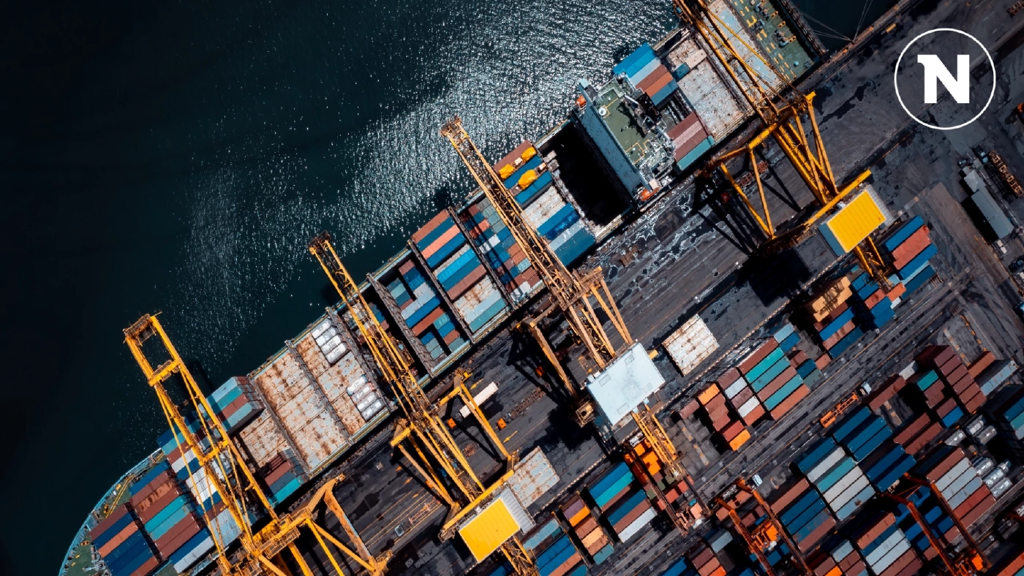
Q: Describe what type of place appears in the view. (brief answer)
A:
port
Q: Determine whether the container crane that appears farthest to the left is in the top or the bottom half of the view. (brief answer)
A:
bottom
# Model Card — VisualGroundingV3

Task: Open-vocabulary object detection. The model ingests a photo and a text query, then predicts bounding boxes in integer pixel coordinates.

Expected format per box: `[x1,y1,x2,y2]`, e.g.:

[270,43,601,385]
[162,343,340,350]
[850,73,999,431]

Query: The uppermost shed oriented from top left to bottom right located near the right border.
[953,168,1018,240]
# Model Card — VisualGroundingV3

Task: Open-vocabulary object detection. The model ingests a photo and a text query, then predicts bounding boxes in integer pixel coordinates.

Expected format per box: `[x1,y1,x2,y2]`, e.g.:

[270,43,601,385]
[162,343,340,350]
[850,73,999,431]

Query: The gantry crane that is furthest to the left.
[119,310,403,576]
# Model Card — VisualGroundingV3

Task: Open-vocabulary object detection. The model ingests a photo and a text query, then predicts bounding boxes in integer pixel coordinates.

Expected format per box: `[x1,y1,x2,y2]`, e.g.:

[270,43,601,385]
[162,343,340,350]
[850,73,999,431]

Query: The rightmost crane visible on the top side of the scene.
[674,0,901,279]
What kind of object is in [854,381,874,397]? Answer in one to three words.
vehicle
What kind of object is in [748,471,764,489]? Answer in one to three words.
vehicle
